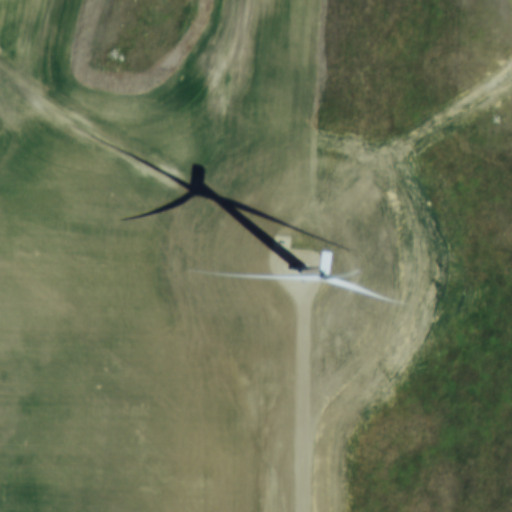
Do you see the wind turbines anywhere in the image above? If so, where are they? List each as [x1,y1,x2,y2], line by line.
[199,250,408,304]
